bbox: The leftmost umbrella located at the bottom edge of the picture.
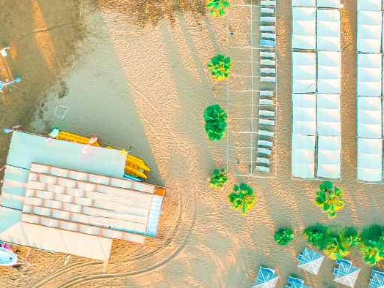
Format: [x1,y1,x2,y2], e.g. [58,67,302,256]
[251,269,279,288]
